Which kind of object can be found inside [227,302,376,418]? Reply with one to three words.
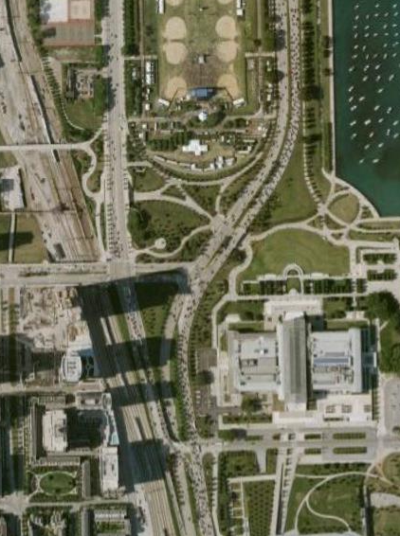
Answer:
building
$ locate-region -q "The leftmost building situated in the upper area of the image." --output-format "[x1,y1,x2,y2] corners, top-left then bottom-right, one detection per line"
[0,166,25,211]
